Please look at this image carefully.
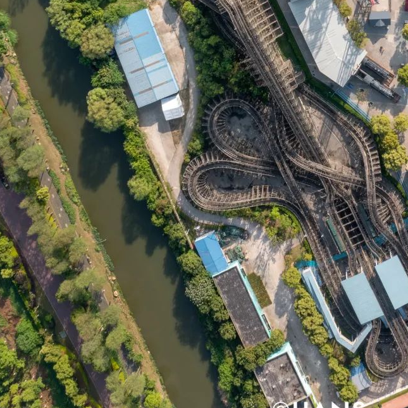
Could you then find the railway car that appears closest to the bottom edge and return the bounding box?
[356,71,401,102]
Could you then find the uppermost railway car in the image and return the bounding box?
[364,56,394,79]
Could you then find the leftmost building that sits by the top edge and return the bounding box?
[107,8,180,107]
